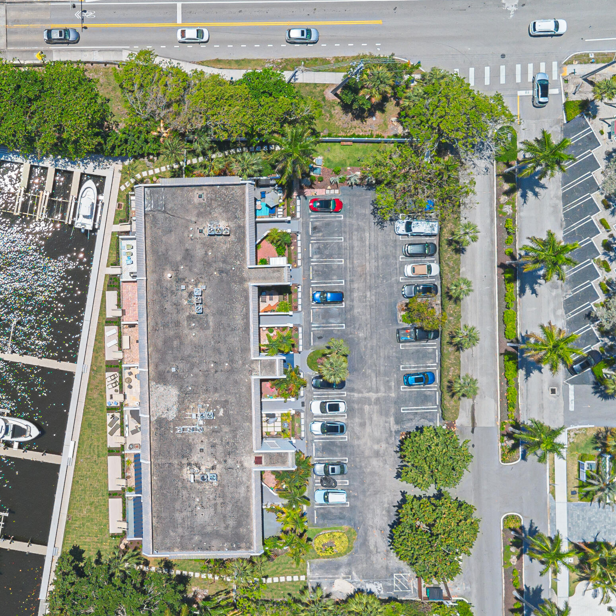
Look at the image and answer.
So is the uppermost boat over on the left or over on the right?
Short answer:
left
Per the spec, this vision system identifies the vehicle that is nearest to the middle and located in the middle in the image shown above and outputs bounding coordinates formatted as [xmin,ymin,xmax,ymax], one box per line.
[311,289,345,306]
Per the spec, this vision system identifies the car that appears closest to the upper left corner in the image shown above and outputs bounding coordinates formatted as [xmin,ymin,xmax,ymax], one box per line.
[43,26,79,44]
